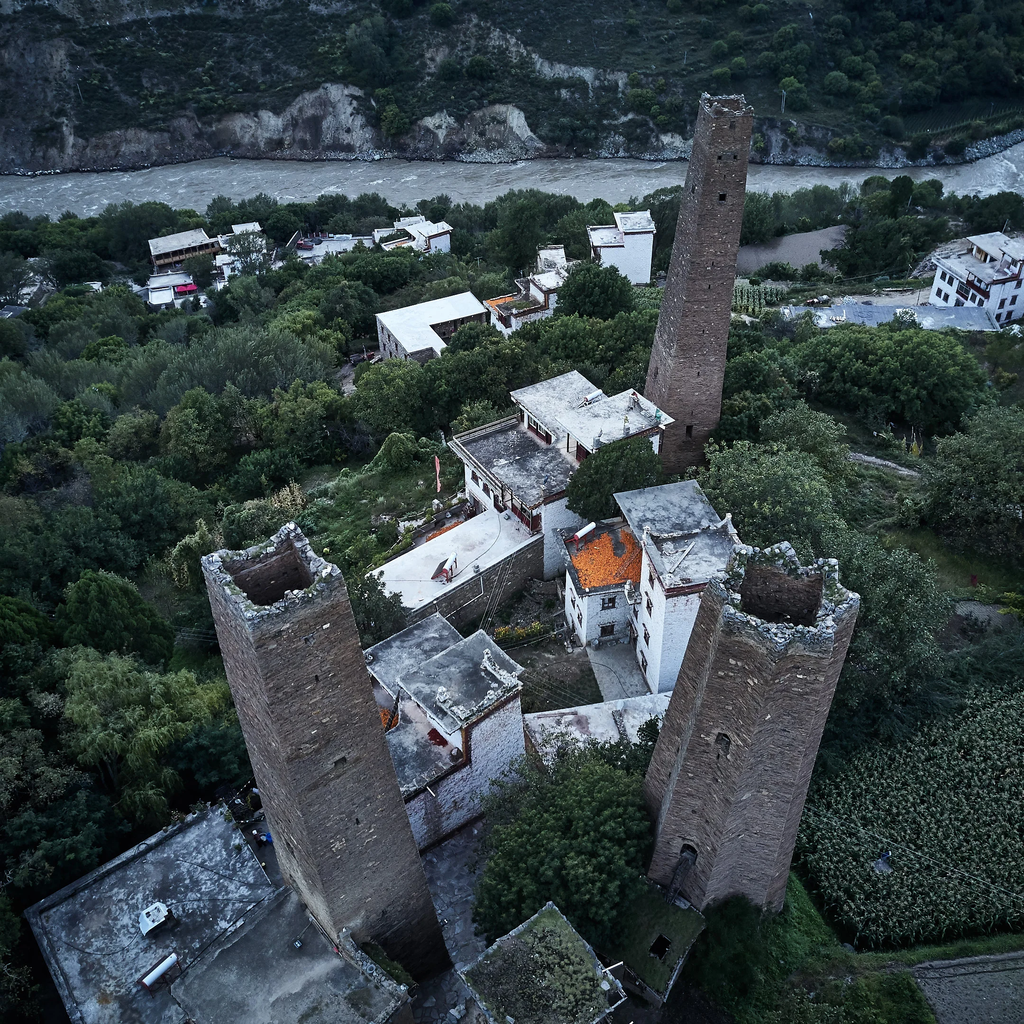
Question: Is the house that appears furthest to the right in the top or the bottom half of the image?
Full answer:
The house that appears furthest to the right is in the top half of the image.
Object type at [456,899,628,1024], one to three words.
house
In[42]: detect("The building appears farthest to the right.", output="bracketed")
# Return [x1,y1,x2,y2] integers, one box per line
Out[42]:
[928,219,1024,325]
